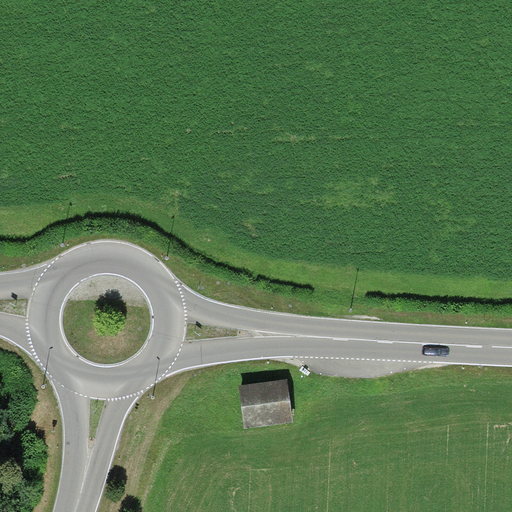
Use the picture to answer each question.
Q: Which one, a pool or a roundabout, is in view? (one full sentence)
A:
I can see a roundabout in this picture.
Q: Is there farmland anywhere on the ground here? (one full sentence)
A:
Yes, farmland can be seen from above here.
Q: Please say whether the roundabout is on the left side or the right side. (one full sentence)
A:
The roundabout sits on the left side.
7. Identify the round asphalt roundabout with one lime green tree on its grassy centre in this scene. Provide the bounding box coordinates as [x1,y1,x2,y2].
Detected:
[26,239,188,400]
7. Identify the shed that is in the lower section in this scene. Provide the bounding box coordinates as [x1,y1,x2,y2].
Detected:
[239,380,293,430]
